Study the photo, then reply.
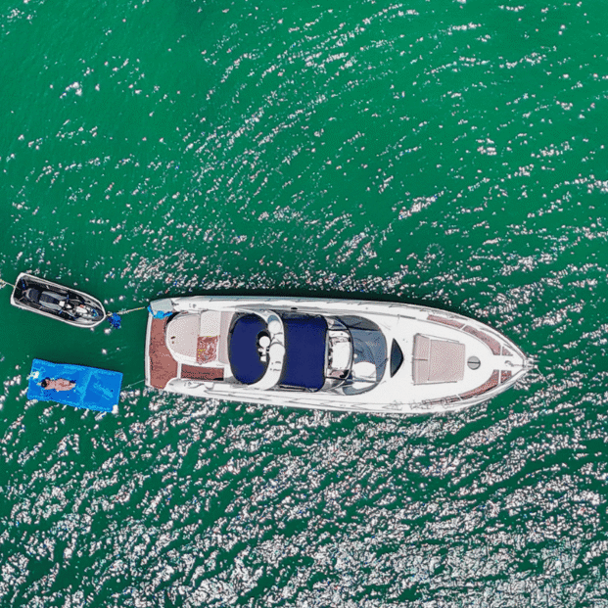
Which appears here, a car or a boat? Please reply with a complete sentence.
Looking from above, you can make out a boat.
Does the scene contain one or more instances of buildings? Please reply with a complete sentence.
No, the photo shows no building.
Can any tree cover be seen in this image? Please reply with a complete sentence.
No, there is no tree cover in the image.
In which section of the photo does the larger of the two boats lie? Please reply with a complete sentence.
Look in the center portion of the view to spot the larger of the two boats.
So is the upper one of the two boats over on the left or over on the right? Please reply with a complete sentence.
It is on the left.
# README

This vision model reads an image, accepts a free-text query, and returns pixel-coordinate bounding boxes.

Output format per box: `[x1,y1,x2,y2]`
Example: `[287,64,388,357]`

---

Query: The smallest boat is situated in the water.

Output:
[13,273,107,327]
